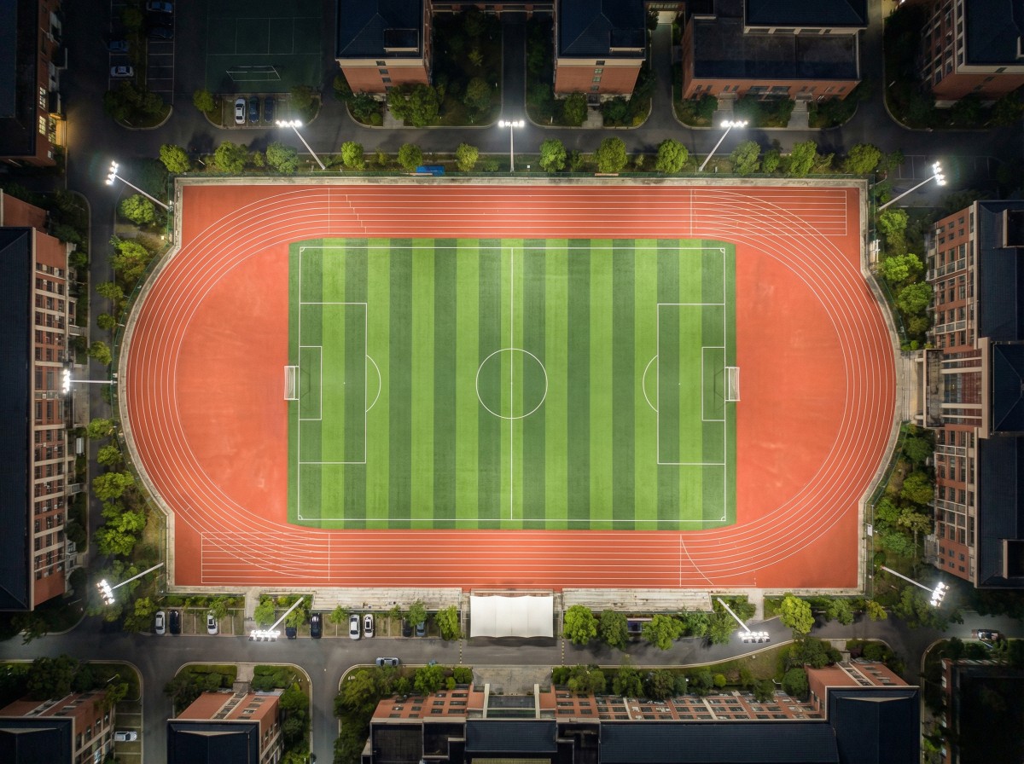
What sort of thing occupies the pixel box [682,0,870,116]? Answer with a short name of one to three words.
building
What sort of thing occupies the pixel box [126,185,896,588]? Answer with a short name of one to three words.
running track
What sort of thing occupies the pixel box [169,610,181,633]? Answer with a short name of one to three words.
vehicle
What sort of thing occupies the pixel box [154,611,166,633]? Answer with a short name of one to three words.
vehicle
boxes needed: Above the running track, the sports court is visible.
[205,0,323,92]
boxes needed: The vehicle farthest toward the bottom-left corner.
[116,730,137,742]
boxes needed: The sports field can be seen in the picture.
[287,238,736,530]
